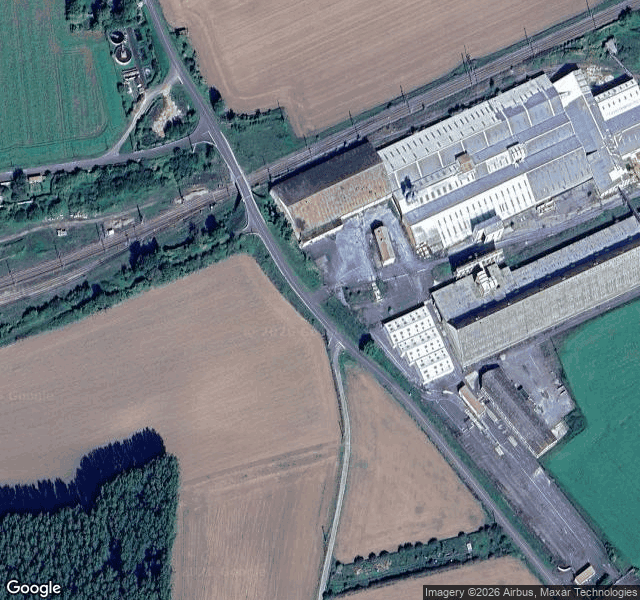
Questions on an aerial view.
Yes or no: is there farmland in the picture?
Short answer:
Yes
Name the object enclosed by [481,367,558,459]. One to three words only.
building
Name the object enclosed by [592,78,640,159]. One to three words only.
shed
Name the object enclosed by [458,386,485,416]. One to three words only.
building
